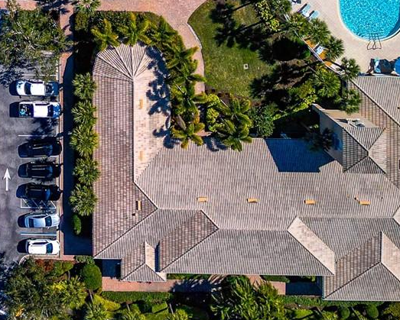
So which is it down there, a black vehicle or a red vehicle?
black vehicle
